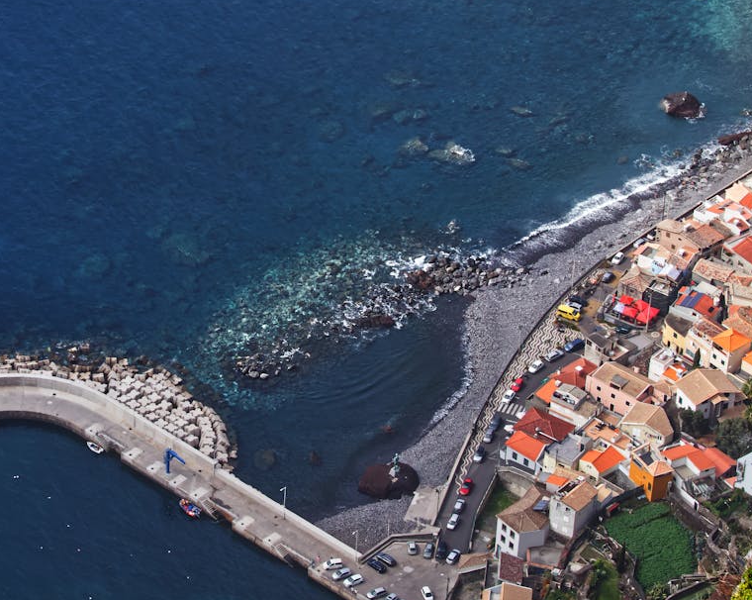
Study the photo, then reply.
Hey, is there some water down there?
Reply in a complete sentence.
Yes, water can be seen from above here.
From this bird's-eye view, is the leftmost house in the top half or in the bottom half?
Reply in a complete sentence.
It is in the bottom half that the leftmost house appears.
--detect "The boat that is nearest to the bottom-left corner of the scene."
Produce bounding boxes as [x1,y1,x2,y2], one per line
[85,444,103,457]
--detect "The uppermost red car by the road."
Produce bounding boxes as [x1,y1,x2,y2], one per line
[511,376,523,391]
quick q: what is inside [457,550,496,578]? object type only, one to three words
house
